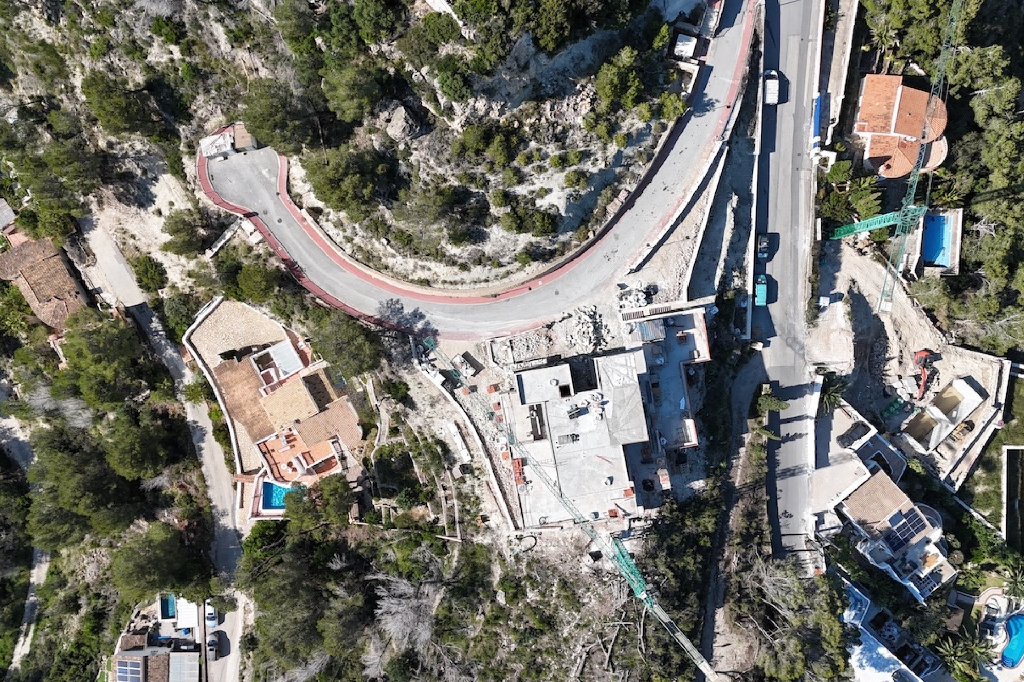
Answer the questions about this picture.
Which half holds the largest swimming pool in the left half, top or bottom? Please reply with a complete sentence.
The largest swimming pool in the left half sits in the bottom half of the picture.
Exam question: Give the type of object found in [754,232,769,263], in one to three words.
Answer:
vehicle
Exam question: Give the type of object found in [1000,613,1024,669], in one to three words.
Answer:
swimming pool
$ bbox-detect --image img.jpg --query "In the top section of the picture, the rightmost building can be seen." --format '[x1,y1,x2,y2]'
[847,74,948,181]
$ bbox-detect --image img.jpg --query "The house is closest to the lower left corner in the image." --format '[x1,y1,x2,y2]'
[108,628,202,682]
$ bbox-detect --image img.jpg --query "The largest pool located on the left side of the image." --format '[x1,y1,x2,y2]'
[259,478,303,513]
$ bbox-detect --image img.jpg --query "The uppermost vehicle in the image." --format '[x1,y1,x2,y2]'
[760,72,778,109]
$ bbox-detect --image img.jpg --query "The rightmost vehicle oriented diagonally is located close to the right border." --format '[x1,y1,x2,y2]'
[949,421,973,442]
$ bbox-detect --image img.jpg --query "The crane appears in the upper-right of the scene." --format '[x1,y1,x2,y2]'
[821,0,966,306]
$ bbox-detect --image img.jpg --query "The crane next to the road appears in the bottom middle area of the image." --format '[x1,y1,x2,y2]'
[422,338,721,682]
